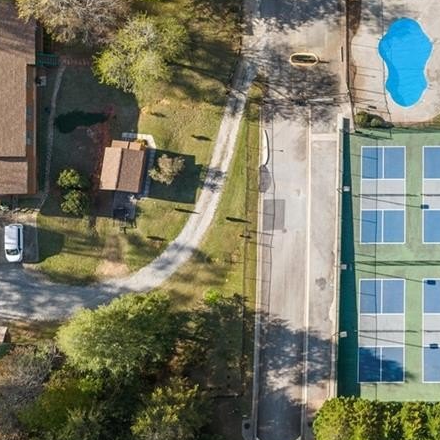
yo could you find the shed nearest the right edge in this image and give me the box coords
[102,139,152,192]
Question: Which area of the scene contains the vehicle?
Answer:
left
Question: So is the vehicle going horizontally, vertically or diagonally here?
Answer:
vertically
